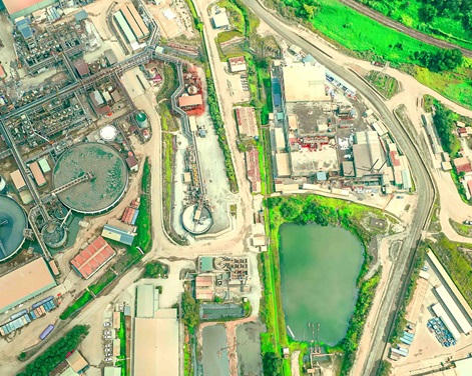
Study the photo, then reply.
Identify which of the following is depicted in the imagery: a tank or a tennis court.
tank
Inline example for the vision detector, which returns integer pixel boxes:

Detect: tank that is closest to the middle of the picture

[182,199,215,236]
